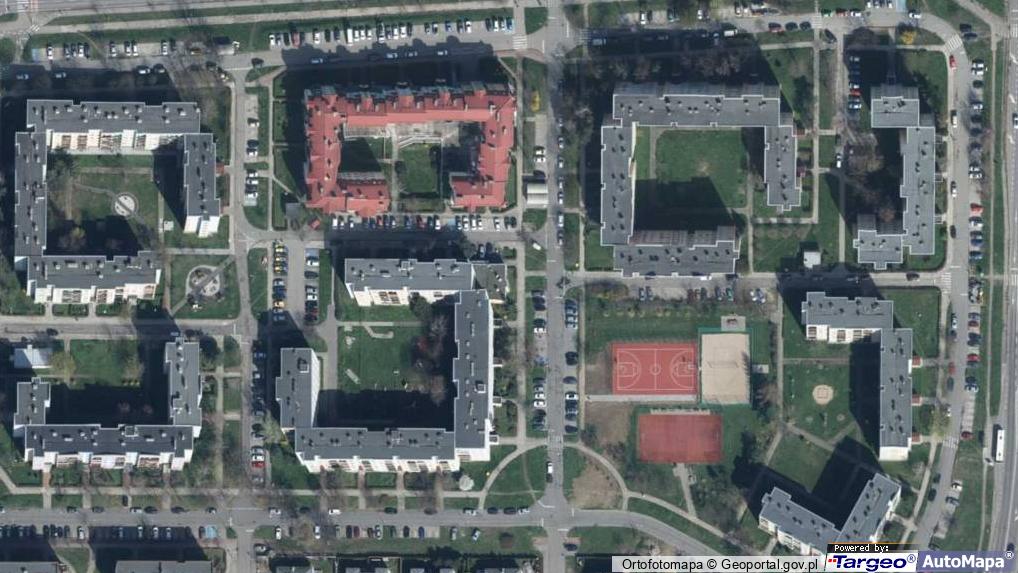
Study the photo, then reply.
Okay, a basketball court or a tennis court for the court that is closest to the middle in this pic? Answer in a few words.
basketball court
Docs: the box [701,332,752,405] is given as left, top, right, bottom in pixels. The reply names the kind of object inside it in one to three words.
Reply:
sports court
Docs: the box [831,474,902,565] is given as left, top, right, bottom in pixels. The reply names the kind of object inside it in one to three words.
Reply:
building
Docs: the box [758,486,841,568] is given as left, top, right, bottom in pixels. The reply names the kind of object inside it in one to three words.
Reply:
building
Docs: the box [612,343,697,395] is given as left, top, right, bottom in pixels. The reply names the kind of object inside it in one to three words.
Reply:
basketball court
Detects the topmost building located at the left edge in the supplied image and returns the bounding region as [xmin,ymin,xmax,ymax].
[27,98,206,151]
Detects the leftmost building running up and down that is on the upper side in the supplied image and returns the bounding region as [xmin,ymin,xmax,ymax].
[15,132,54,268]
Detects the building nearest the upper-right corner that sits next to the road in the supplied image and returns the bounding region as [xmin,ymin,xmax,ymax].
[870,86,933,142]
